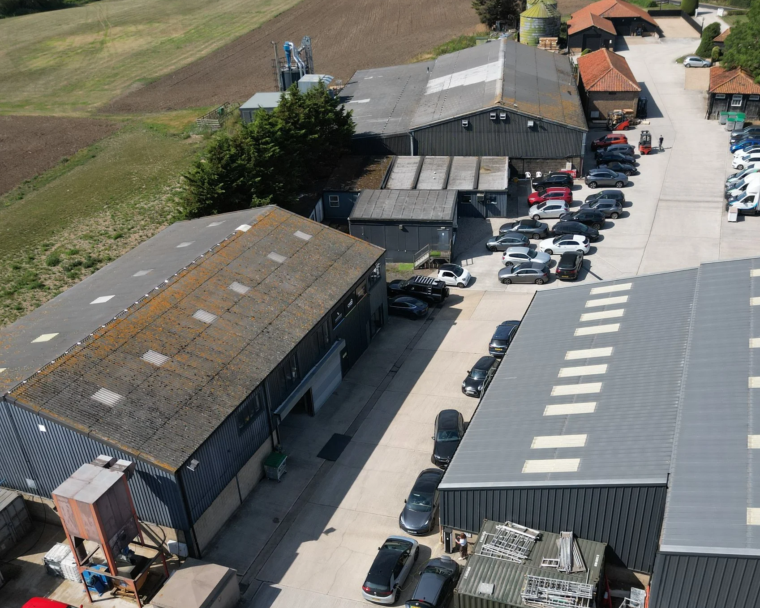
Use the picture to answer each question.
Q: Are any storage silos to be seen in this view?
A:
Yes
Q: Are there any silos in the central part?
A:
No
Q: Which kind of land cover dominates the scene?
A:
buildings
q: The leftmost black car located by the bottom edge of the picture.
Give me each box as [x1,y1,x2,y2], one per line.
[359,534,420,608]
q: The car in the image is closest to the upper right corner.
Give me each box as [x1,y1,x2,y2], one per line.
[682,56,712,68]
